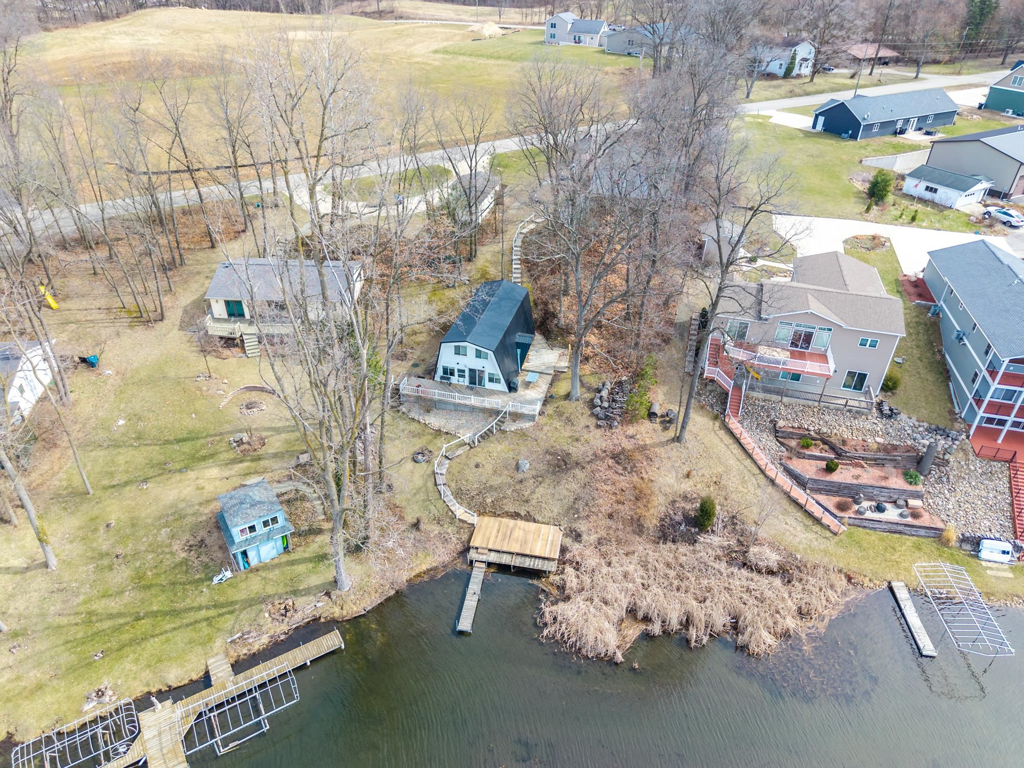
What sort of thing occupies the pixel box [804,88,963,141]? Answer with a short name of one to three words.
house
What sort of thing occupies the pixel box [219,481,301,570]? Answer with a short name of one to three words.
shed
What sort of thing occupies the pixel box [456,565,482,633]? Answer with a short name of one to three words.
pier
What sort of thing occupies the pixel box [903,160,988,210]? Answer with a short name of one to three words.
building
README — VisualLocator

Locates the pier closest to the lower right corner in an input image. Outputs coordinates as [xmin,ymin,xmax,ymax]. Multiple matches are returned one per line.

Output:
[887,582,937,656]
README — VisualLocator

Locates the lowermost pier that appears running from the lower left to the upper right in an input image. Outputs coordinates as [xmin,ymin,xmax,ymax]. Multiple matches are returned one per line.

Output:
[86,625,345,768]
